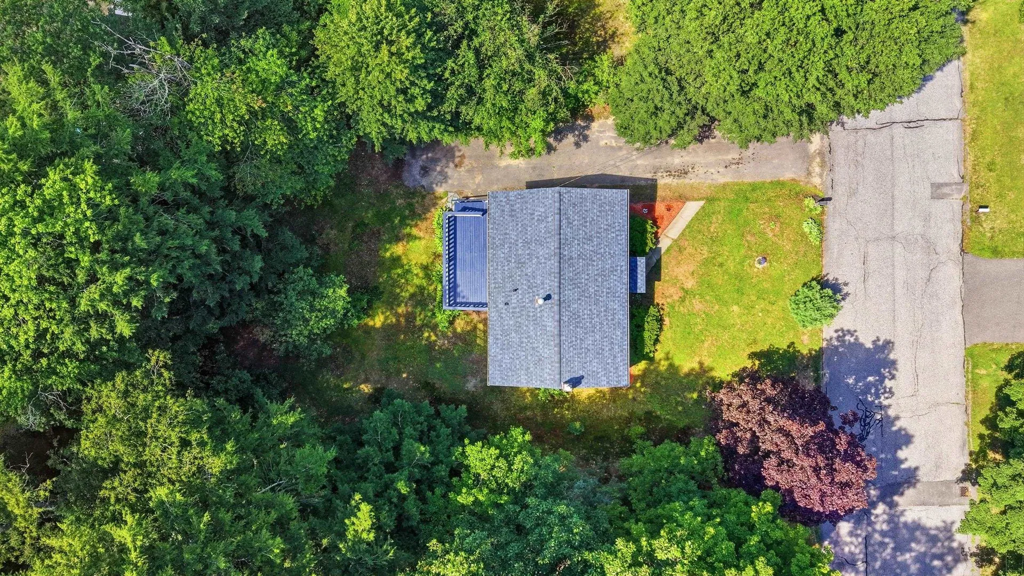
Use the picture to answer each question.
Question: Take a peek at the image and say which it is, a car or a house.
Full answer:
There is a house in the scene.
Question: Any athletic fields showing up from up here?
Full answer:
No, there appears to be no athletic field in this shot.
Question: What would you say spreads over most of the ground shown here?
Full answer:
What you mostly see from above here is trees.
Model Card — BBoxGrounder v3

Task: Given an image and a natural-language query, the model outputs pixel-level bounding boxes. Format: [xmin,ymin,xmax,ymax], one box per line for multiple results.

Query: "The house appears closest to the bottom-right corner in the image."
[486,189,646,395]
